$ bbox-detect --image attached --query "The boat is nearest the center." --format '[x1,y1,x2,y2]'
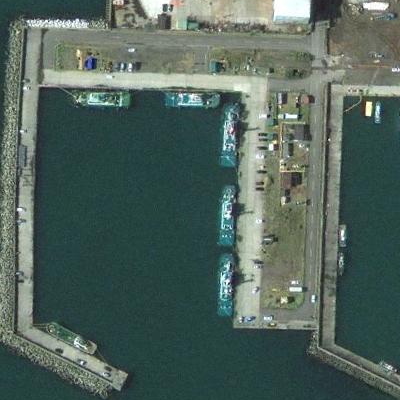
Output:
[219,182,235,246]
